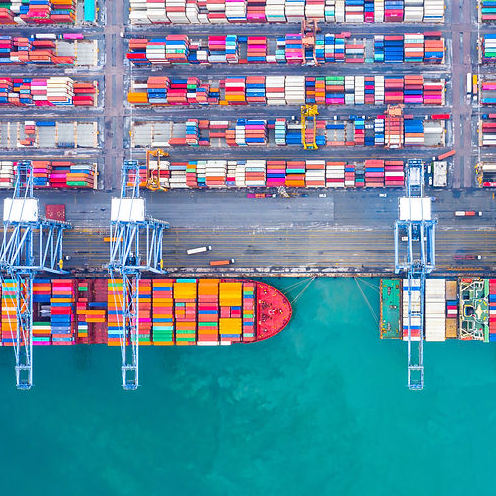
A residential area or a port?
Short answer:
port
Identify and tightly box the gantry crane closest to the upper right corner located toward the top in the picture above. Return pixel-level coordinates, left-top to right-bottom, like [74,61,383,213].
[385,103,404,151]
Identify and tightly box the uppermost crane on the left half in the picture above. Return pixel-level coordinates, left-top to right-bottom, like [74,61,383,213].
[146,147,171,192]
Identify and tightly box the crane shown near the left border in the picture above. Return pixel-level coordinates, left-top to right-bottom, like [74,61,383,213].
[0,159,75,392]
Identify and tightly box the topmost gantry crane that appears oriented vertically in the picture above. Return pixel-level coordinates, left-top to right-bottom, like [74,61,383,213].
[303,17,321,67]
